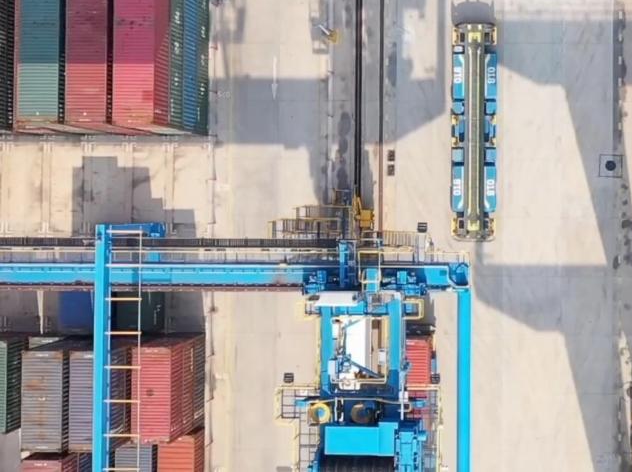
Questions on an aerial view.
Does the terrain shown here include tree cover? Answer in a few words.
No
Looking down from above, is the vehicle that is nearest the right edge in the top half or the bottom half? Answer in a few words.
top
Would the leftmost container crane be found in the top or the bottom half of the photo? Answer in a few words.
bottom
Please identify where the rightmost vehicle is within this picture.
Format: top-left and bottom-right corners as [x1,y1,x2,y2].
[452,21,499,239]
